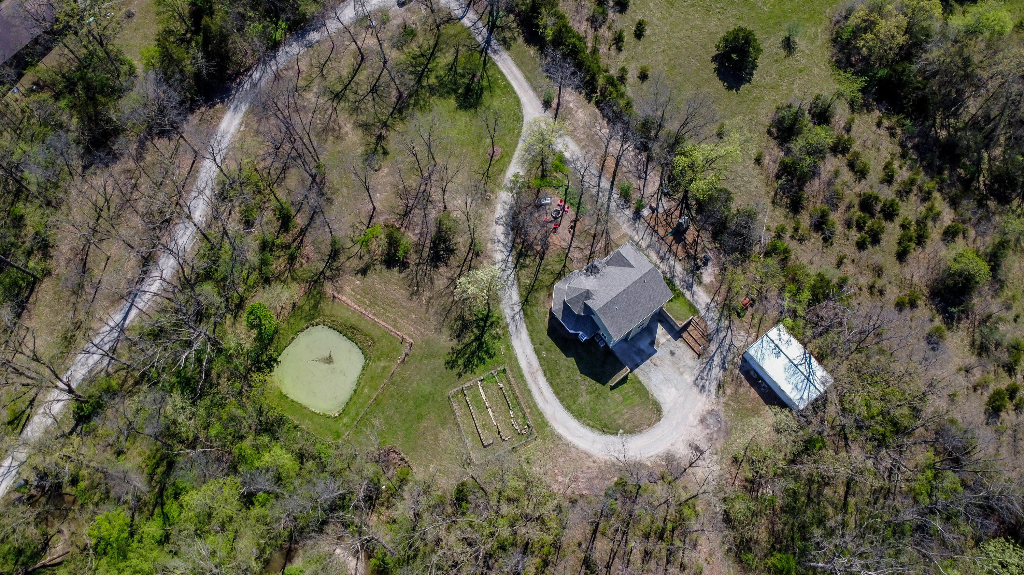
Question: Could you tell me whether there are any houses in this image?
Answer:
Yes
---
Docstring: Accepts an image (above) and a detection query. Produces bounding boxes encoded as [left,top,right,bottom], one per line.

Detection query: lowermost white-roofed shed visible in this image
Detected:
[743,323,833,411]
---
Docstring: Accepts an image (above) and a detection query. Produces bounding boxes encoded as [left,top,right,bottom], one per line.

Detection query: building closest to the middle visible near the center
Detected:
[552,240,674,348]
